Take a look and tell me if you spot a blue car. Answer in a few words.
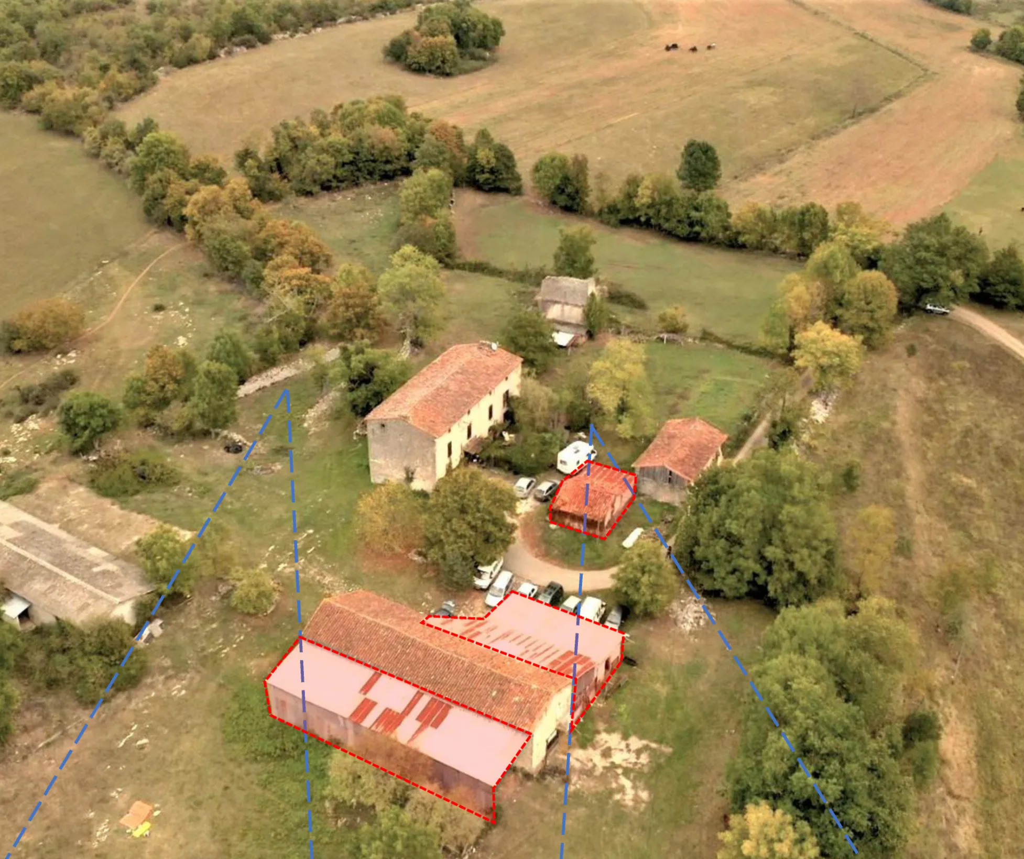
No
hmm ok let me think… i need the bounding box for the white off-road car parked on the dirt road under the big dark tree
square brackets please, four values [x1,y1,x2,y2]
[921,299,954,315]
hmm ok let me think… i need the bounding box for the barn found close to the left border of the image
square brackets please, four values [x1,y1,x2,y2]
[0,503,159,631]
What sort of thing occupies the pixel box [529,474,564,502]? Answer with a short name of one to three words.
car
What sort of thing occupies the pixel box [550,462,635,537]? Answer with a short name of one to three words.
shed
